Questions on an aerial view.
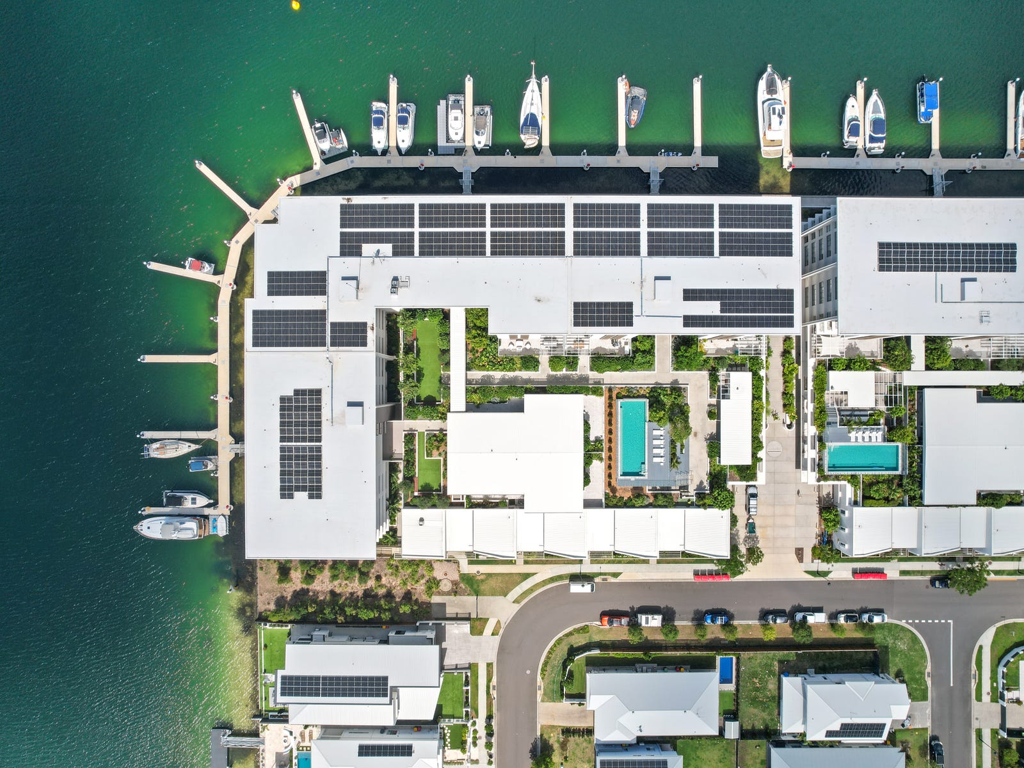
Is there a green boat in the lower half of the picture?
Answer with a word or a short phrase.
No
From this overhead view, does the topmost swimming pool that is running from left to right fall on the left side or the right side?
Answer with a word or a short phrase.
right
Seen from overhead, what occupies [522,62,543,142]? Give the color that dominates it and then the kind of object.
white boat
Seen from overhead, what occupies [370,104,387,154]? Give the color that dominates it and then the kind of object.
white boat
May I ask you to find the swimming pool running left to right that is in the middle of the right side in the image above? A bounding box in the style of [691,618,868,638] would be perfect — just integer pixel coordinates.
[823,442,902,474]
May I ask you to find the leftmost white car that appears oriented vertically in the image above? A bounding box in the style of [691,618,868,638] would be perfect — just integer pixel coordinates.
[746,487,760,516]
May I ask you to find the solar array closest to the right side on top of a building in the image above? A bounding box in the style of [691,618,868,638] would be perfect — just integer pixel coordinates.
[878,242,1016,272]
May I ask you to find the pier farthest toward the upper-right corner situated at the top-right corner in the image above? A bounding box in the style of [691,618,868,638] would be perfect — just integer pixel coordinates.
[1002,80,1018,159]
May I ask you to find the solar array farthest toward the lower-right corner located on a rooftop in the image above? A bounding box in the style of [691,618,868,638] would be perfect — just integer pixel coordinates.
[823,725,890,739]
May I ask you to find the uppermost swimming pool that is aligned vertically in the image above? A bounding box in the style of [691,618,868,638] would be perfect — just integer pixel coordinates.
[616,398,649,479]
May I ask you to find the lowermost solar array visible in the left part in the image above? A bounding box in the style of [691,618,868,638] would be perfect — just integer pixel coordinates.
[358,744,412,757]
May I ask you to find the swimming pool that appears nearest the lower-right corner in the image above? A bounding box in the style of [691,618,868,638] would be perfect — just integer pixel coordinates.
[717,654,734,686]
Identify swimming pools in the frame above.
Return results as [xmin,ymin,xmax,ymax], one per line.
[717,654,734,686]
[823,442,902,474]
[296,748,311,768]
[616,398,649,479]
